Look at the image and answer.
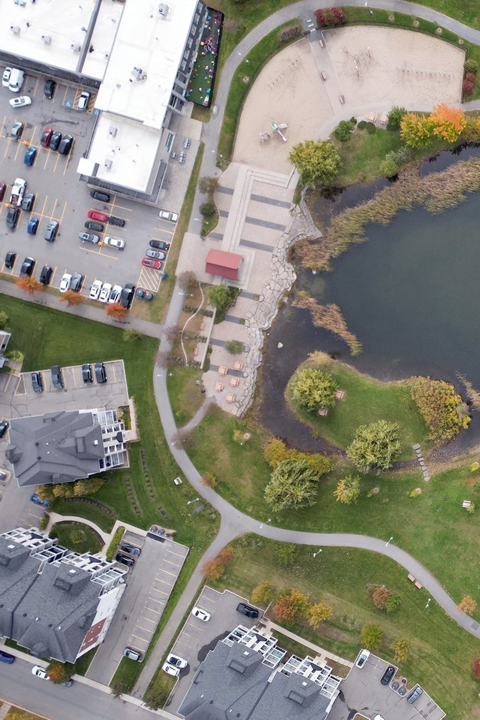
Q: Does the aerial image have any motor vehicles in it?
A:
Yes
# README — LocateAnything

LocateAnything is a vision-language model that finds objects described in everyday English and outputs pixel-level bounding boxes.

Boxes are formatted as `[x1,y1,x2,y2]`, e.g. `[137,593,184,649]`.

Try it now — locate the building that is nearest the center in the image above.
[199,248,239,276]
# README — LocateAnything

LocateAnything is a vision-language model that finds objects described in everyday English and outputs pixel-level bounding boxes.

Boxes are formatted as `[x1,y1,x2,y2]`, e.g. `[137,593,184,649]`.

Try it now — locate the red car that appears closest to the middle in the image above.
[140,257,162,270]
